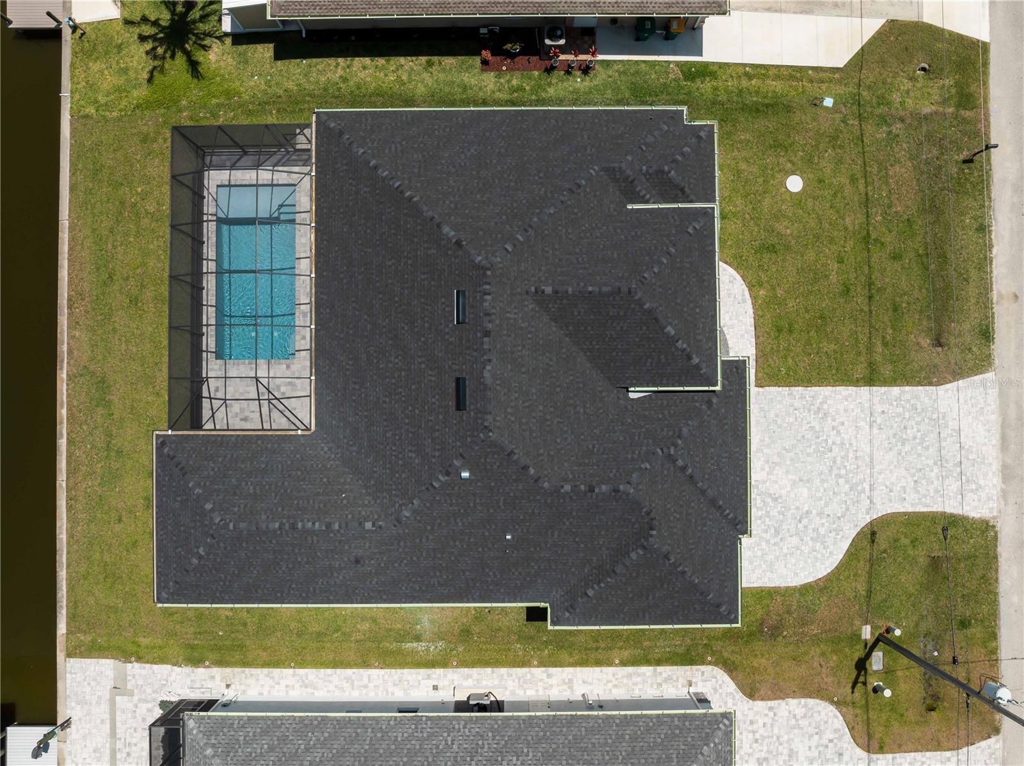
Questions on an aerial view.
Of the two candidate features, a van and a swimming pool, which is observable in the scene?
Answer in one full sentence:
Of the two, only a swimming pool appears.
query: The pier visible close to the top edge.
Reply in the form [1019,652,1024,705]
[7,0,61,31]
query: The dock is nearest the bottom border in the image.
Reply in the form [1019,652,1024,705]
[6,724,58,766]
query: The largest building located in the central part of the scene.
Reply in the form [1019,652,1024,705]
[151,106,752,630]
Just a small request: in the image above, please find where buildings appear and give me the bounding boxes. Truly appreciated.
[151,106,752,630]
[183,694,738,766]
[268,0,731,35]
